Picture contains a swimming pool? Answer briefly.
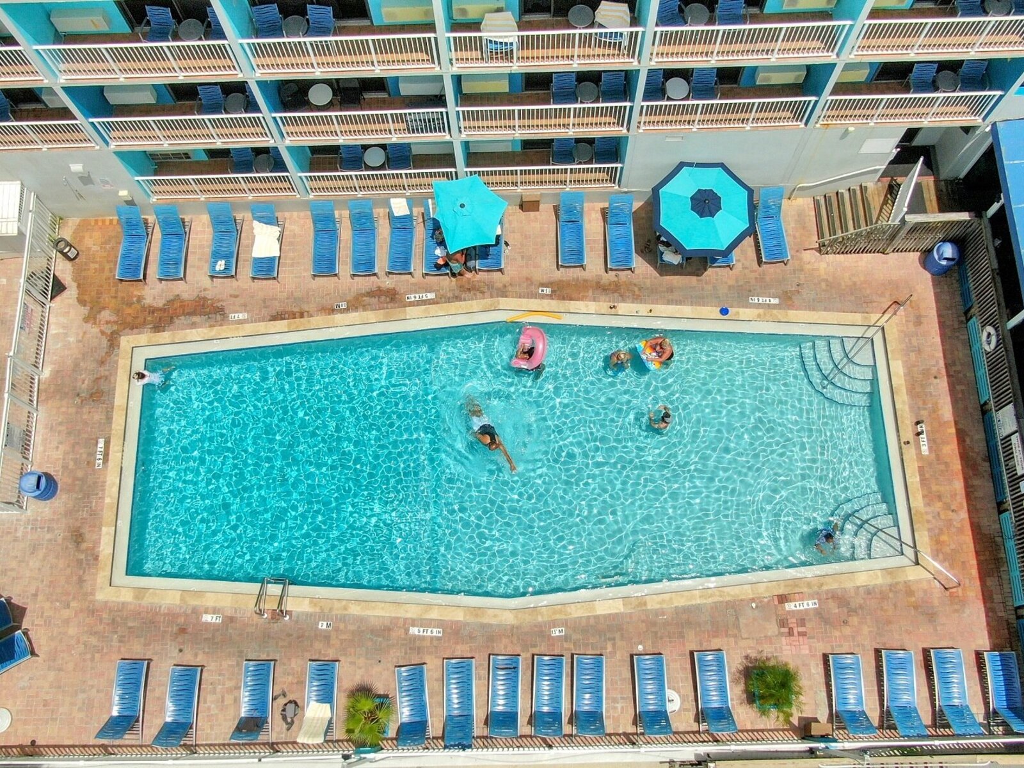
Yes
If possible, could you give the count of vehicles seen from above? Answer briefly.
0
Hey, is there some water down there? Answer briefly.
Yes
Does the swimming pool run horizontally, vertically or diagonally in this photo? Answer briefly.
horizontally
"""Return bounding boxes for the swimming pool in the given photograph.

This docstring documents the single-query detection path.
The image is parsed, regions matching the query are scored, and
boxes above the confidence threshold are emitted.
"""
[95,298,935,623]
